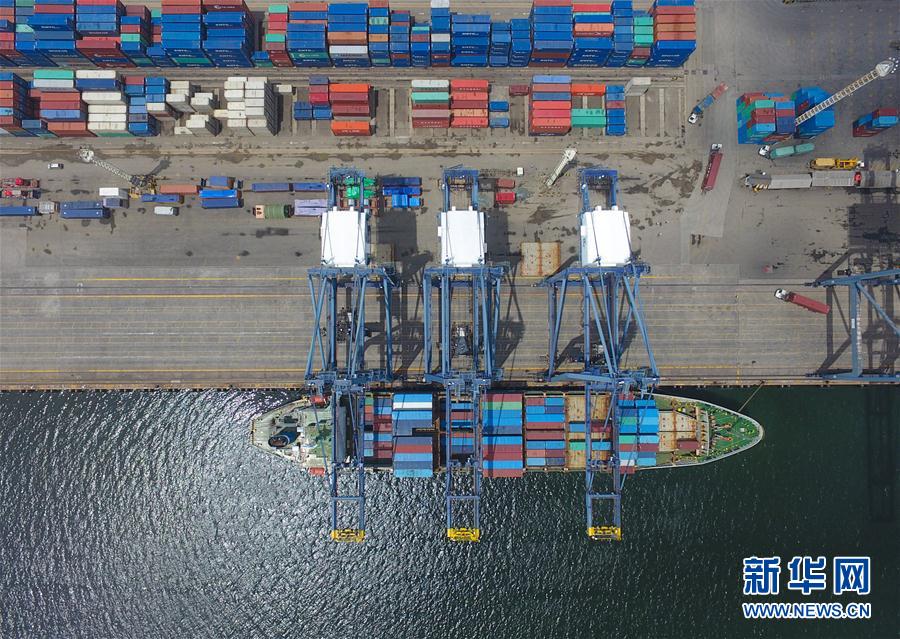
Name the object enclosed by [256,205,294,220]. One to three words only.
vehicle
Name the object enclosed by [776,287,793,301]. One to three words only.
vehicle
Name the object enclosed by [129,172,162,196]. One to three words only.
work vehicle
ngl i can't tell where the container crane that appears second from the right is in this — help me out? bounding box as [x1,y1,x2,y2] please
[523,166,655,543]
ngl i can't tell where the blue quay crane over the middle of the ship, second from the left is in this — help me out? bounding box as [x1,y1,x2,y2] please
[410,168,510,544]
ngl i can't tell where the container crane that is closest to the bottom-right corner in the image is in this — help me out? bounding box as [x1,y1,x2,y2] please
[804,266,900,383]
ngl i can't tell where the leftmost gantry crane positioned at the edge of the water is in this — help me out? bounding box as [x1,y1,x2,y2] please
[304,169,417,545]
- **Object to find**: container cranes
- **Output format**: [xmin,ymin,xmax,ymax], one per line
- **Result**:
[410,168,510,544]
[523,166,655,543]
[304,169,417,545]
[804,266,900,383]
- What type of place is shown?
port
